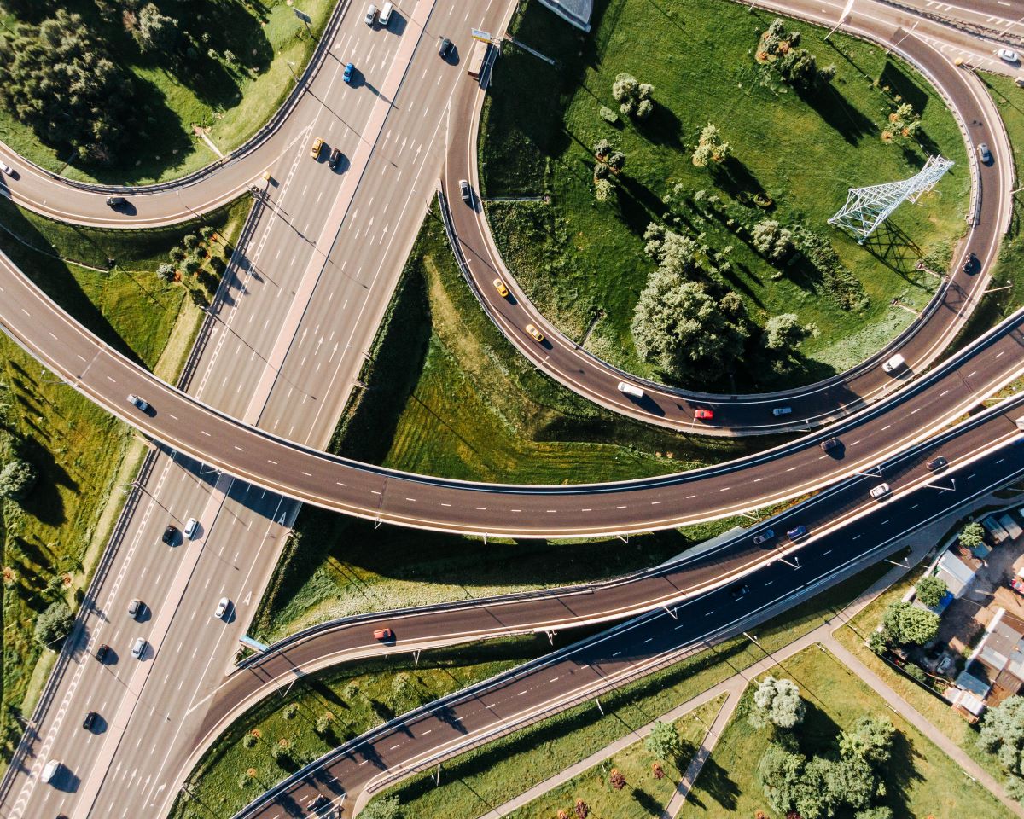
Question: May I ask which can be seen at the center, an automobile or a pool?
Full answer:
It is an automobile that can be seen at the center.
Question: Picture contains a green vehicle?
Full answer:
No, there appears to be no green vehicle in this shot.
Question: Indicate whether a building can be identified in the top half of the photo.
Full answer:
No, I see no building in the top half of the photo.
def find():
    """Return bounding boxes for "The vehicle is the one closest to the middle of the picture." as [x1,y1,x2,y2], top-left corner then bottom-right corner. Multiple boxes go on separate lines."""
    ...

[525,323,544,342]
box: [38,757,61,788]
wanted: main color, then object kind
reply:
white truck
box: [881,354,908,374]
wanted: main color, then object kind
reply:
white vehicle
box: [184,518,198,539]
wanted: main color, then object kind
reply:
white car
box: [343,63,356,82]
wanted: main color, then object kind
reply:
blue vehicle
